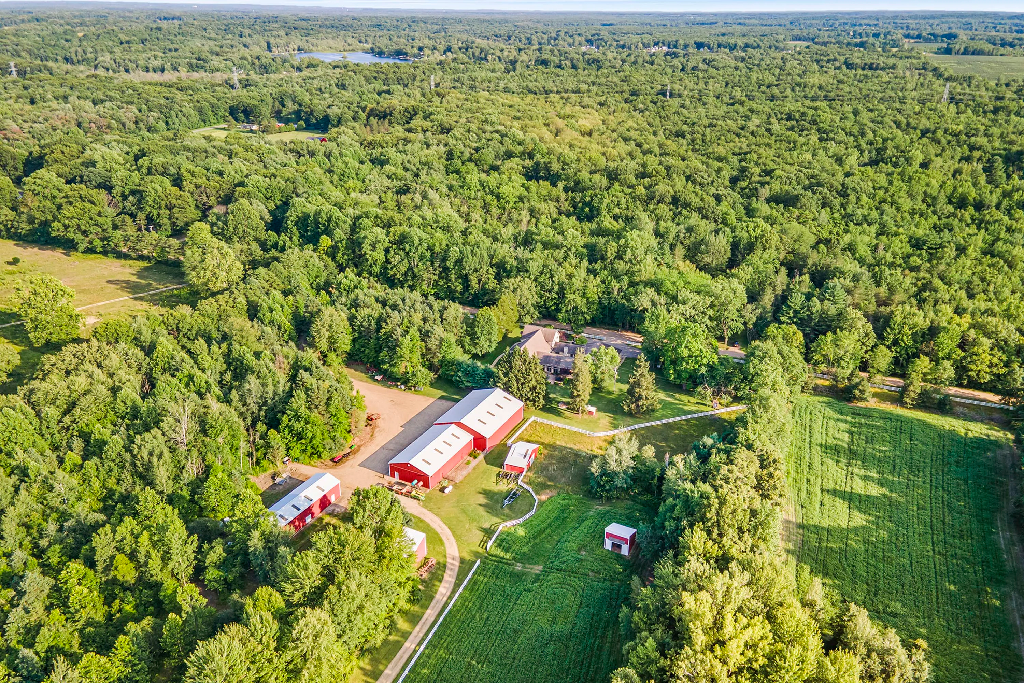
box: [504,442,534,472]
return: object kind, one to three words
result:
shed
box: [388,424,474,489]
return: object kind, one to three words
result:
barn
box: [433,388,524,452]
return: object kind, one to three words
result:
barn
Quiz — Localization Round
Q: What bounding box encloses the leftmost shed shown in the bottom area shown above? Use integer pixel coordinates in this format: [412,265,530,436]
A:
[265,472,341,541]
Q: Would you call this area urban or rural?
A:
rural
